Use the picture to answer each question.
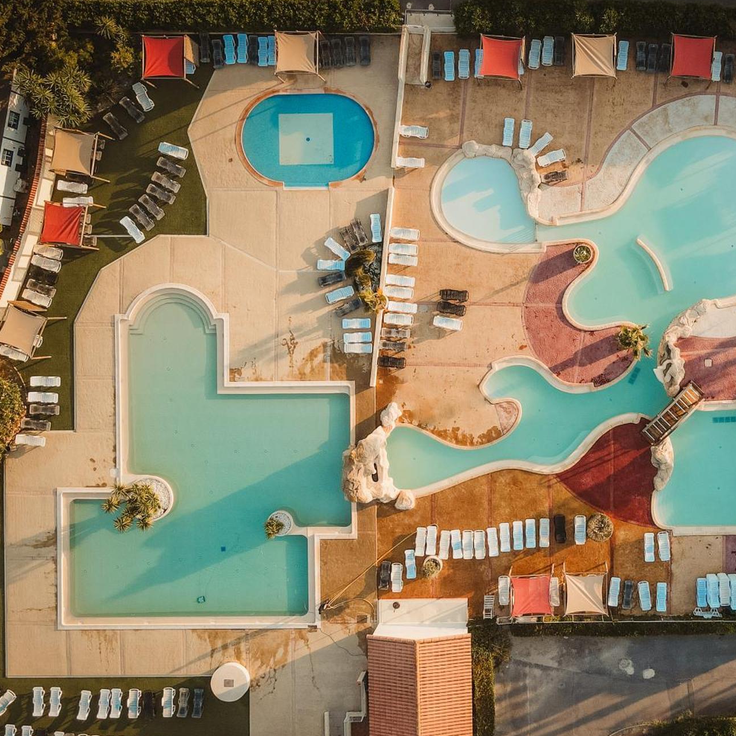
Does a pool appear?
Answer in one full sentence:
Yes, the frame does contain a pool.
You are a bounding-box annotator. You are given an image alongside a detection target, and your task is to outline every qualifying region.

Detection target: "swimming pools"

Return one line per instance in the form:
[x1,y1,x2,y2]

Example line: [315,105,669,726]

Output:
[238,88,379,188]
[431,149,547,252]
[57,283,356,629]
[381,124,736,534]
